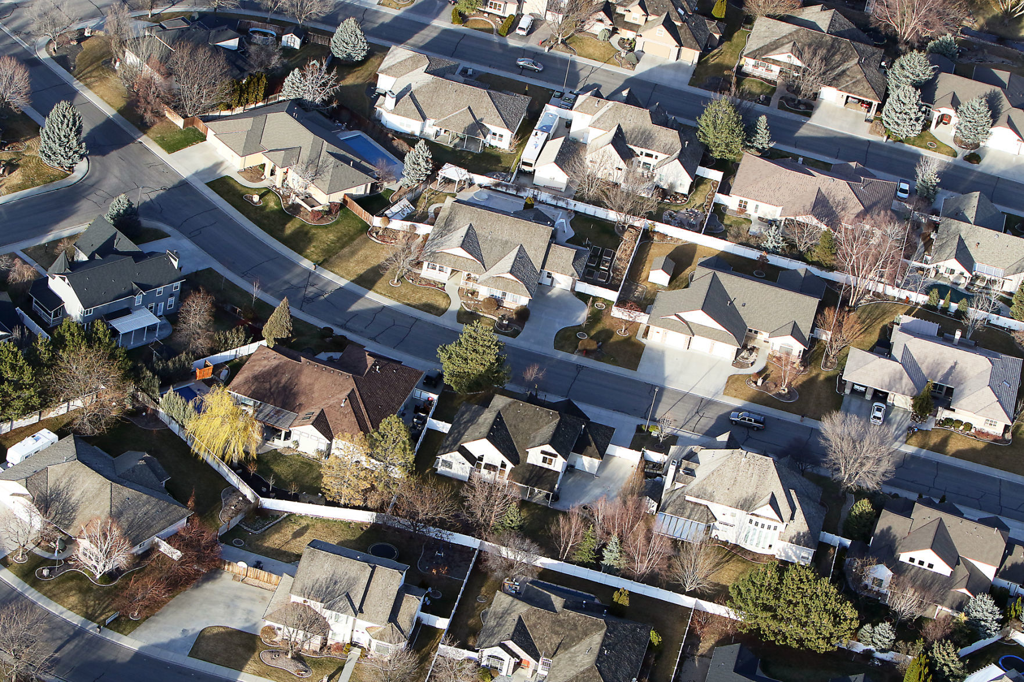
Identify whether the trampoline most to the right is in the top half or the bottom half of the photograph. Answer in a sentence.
Seen from above, the trampoline most to the right lies in the bottom half of the view.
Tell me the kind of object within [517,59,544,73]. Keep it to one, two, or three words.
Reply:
car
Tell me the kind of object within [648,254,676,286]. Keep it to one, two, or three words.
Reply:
shed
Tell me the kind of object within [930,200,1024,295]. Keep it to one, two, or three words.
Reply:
house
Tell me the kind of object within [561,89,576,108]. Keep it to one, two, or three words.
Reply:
vehicle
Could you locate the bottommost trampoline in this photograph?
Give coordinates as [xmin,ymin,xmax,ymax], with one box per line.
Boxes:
[998,651,1024,677]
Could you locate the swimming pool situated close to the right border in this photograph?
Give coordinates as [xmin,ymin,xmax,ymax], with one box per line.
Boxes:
[923,282,1003,314]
